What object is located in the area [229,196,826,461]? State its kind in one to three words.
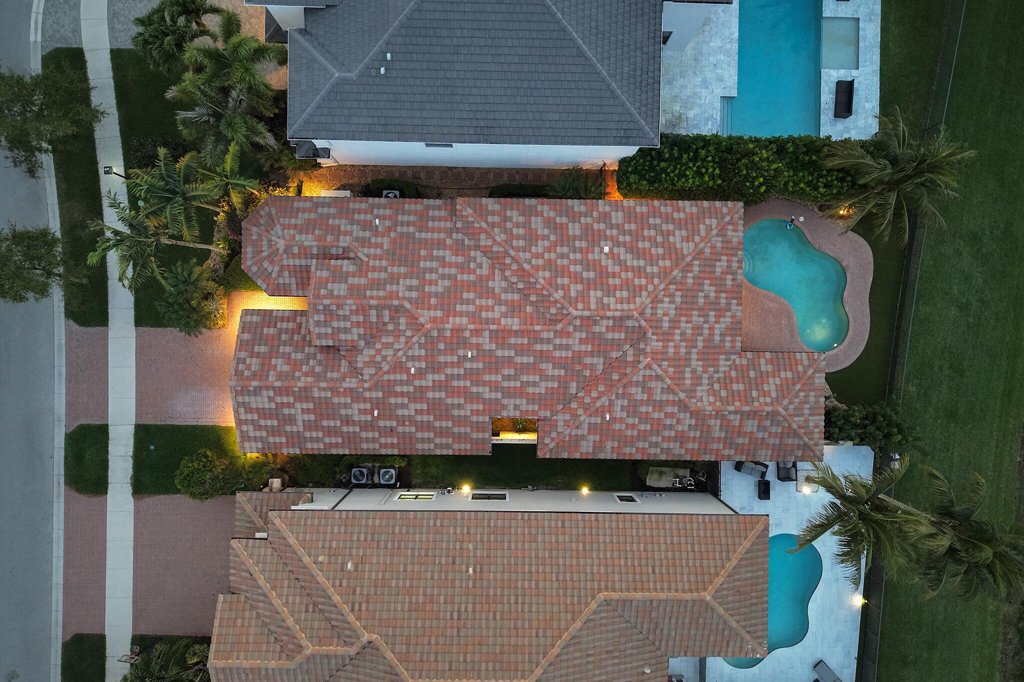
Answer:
house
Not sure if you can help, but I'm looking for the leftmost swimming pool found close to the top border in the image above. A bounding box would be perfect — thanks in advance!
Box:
[721,0,821,145]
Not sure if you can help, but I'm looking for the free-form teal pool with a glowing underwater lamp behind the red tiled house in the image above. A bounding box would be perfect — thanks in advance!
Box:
[743,213,854,356]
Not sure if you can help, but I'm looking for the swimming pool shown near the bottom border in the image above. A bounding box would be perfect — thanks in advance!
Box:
[722,534,823,669]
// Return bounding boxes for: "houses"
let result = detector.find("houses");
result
[229,196,826,461]
[206,488,770,682]
[242,0,733,171]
